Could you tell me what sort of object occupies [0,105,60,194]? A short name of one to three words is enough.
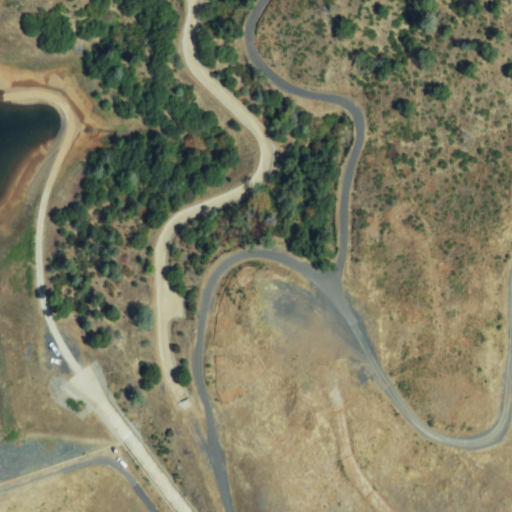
pond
